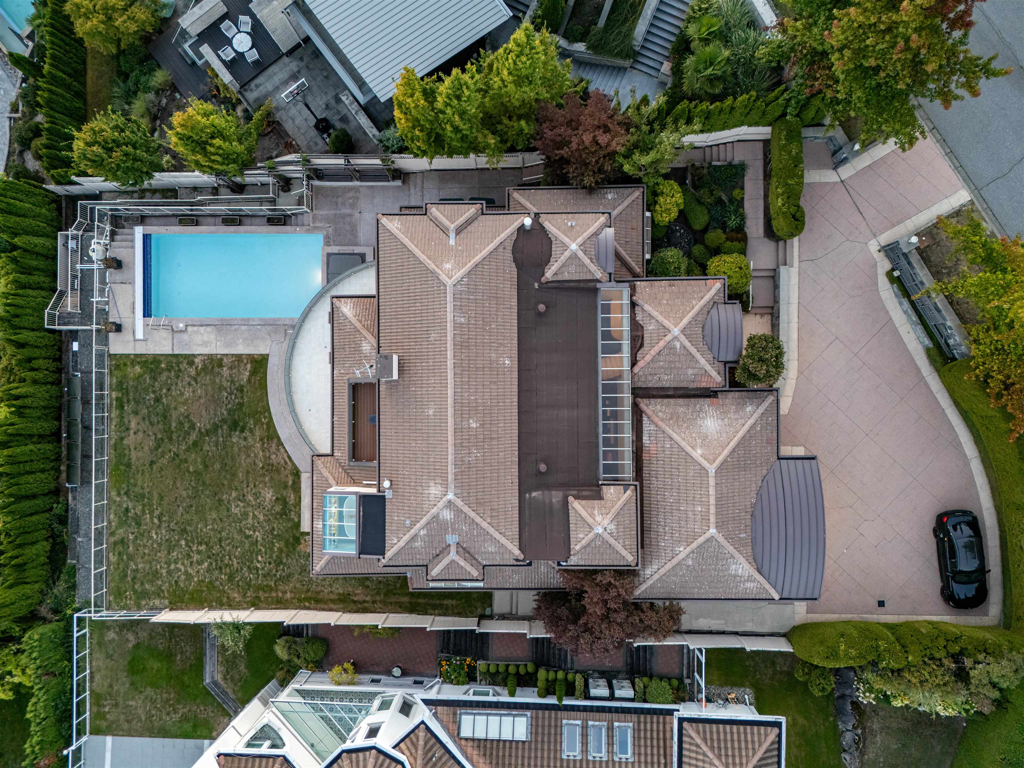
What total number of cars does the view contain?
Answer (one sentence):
Altogether the scene contains 1 car.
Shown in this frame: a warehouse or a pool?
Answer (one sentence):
The one in the frame is a pool.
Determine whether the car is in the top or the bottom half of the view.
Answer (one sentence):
The bottom half of the photo is where the car is.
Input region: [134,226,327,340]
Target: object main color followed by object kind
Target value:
blue swimming pool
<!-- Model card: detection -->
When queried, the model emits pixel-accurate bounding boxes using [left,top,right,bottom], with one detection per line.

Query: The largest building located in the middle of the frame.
[283,183,824,604]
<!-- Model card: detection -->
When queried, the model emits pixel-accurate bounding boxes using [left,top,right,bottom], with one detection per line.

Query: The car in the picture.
[929,513,995,611]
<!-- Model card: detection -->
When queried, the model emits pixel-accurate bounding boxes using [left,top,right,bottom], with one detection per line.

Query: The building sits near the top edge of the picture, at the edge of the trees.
[285,0,514,108]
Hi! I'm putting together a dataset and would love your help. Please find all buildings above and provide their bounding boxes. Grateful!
[285,0,514,108]
[283,183,824,604]
[171,661,788,768]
